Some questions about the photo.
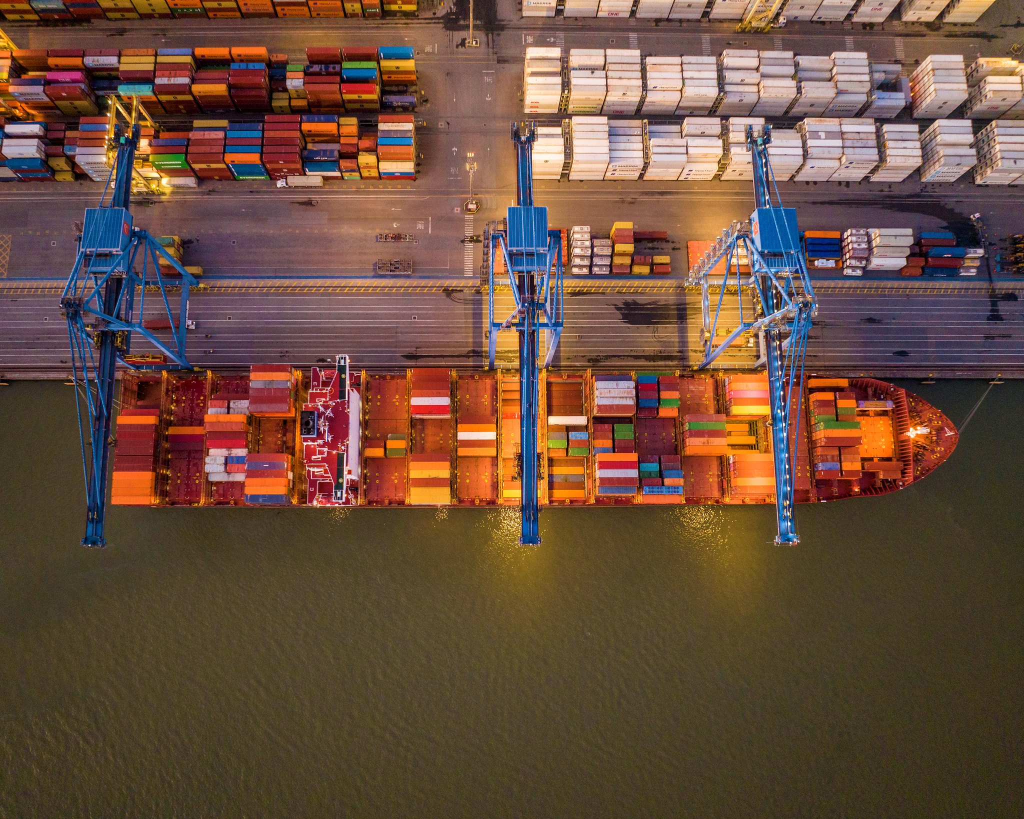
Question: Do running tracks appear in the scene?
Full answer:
No, no running track can be seen from above.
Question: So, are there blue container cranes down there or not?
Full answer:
Yes, the frame does contain a blue container crane.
